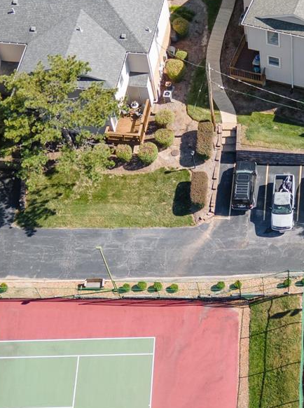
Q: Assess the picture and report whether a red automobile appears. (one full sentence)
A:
No, I find no red automobile anywhere in the image.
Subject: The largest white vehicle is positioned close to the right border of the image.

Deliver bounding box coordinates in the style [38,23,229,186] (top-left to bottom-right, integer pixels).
[267,172,297,229]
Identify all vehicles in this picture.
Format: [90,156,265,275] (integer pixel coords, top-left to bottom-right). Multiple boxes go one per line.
[279,173,288,191]
[267,172,297,229]
[230,161,258,212]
